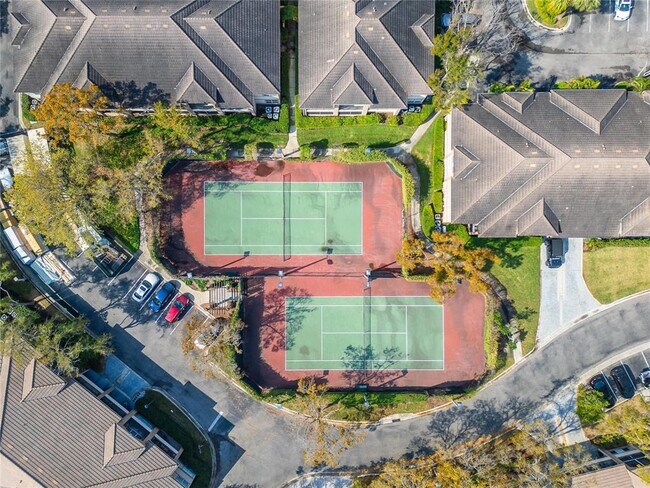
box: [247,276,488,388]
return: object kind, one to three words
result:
tennis court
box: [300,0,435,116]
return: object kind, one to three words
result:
house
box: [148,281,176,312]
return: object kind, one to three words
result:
car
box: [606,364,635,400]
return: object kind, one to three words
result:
car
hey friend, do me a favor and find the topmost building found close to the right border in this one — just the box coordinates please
[446,89,650,237]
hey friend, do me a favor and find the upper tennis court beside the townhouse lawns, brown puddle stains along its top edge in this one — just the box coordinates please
[162,160,404,276]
